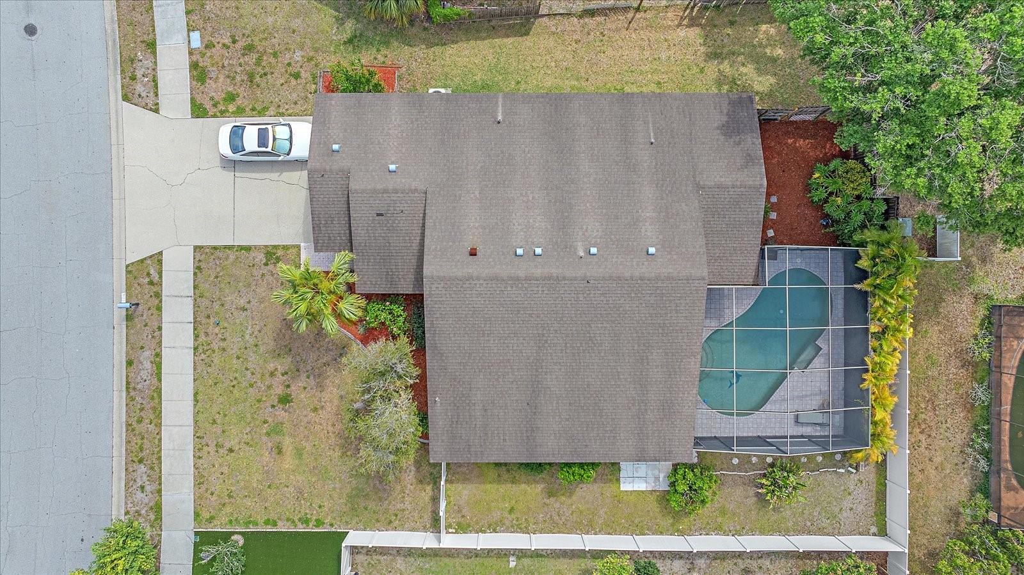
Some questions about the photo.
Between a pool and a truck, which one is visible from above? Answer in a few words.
pool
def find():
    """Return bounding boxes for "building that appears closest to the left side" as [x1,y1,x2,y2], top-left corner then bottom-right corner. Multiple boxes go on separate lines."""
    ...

[307,93,766,462]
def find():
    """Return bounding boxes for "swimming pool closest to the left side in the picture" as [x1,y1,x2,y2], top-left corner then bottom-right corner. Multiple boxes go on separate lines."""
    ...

[699,257,836,423]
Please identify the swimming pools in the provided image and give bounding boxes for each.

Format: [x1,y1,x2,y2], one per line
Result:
[699,257,836,423]
[1009,359,1024,486]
